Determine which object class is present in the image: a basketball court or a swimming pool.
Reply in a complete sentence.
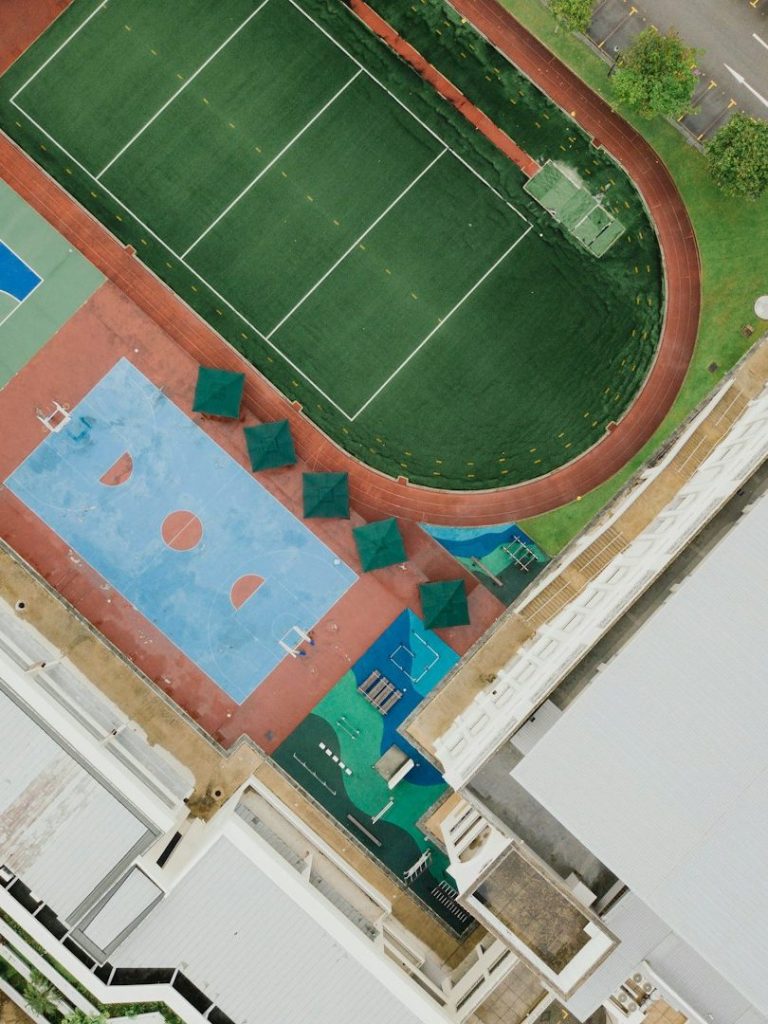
The one in the frame is a basketball court.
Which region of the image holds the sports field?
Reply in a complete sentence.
The sports field appears toward the top of the photo.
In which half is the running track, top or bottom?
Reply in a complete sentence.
The top half of the photo is where the running track is.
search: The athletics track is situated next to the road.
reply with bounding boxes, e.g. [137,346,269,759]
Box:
[0,0,702,528]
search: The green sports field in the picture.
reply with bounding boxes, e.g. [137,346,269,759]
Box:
[0,0,662,491]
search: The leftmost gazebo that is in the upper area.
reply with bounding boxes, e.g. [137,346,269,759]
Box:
[193,366,246,419]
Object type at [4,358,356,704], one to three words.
basketball court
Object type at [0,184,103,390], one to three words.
sports court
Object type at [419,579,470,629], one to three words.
gazebo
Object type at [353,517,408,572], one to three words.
gazebo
